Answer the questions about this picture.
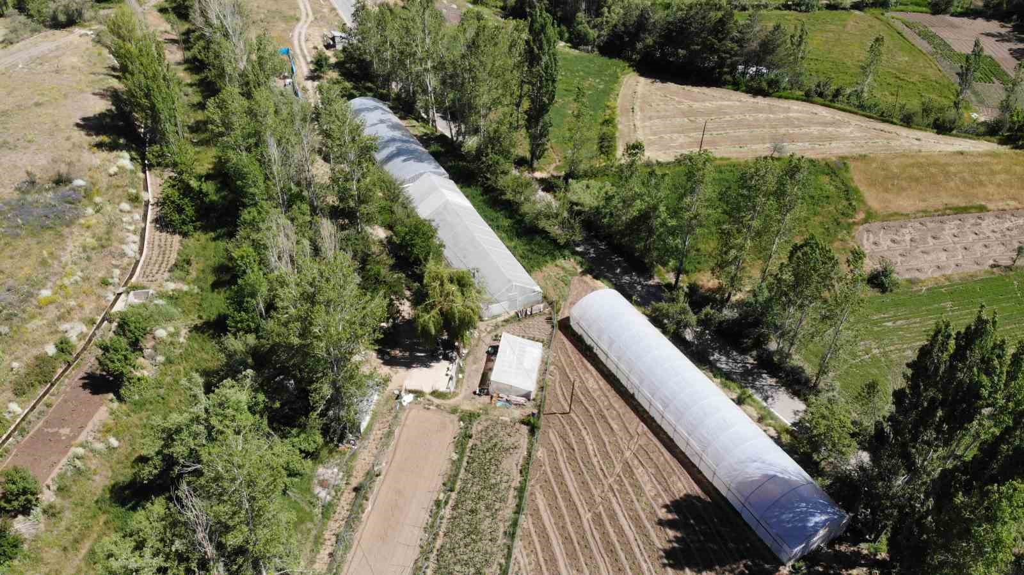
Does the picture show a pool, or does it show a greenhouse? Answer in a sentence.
Looking from above, you can make out a greenhouse.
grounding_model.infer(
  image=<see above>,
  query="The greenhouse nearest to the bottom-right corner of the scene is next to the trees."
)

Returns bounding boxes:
[566,287,858,565]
